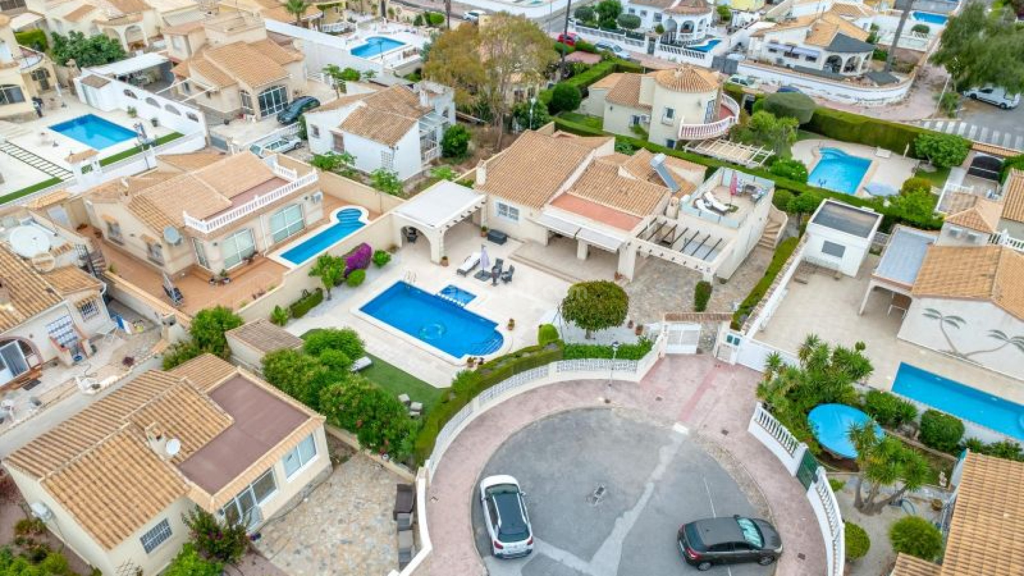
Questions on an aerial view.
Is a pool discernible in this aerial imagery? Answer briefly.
Yes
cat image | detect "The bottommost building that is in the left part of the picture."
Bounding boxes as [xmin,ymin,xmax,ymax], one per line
[5,352,332,576]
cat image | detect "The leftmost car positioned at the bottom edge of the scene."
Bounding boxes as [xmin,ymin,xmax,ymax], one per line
[479,476,535,565]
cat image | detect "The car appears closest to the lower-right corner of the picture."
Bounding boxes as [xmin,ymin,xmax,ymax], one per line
[676,516,786,573]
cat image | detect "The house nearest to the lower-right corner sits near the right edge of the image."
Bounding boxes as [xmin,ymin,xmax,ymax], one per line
[891,450,1024,576]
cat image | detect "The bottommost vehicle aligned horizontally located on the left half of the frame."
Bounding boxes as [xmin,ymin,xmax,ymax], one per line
[249,130,302,159]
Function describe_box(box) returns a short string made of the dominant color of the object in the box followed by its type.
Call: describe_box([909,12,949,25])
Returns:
blue swimming pool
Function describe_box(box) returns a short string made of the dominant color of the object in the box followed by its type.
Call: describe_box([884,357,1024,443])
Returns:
blue swimming pool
